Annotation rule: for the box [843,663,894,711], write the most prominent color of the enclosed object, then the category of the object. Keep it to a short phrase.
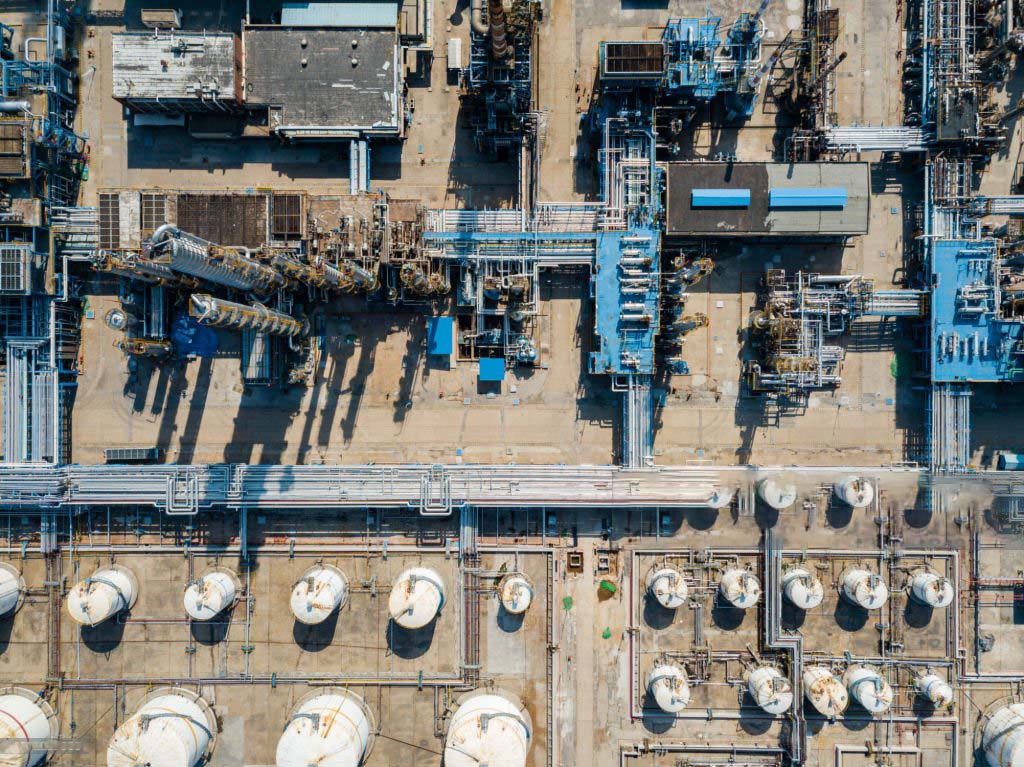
white storage tank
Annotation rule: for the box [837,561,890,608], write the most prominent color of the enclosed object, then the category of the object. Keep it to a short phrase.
white storage tank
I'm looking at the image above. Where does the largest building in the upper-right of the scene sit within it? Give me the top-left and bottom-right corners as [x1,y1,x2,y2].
[660,163,869,241]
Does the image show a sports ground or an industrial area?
industrial area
